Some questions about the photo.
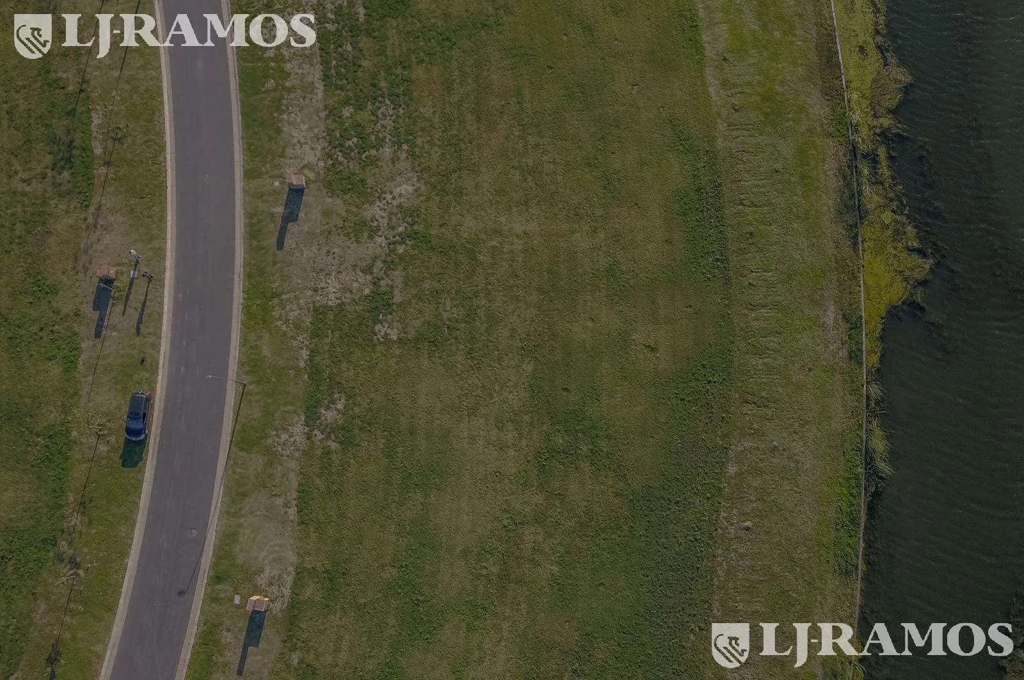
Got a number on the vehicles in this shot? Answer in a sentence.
Altogether the scene contains 1 vehicle.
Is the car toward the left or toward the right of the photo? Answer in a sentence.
It is on the left.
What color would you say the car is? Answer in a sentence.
The color of the car is black.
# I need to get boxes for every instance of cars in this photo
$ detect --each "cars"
[121,391,155,442]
